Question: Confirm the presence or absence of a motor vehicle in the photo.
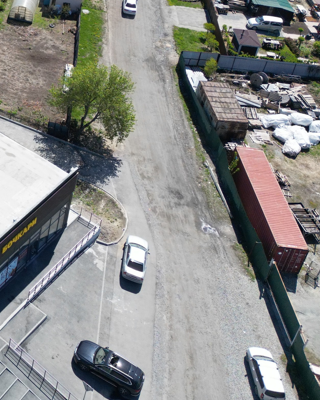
Yes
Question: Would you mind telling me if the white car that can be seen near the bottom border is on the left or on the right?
right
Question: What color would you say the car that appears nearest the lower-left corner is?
black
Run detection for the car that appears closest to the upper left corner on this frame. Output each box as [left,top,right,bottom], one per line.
[121,0,138,17]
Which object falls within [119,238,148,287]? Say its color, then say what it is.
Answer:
white car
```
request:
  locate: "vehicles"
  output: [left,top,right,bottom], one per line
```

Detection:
[70,344,145,397]
[244,343,287,400]
[121,0,138,17]
[119,238,148,287]
[244,16,285,34]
